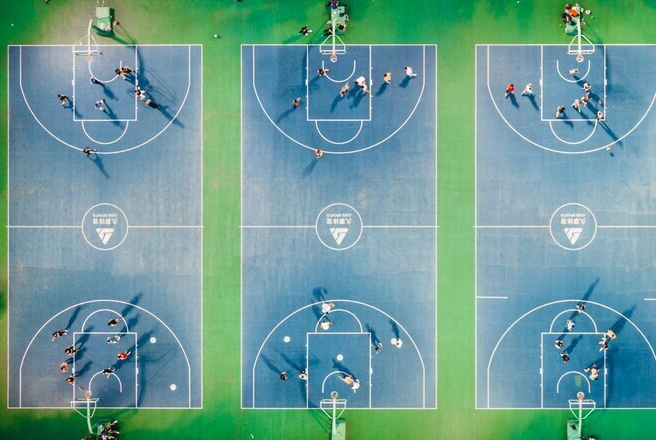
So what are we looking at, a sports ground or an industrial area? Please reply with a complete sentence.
The picture captures a sports ground.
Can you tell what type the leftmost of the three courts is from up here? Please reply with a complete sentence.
It turns out the leftmost of the three courts is a basketball court.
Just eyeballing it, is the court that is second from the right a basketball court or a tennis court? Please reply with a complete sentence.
It turns out the court that is second from the right is a basketball court.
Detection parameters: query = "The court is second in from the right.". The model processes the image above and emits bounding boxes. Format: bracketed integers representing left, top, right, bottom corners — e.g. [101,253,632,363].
[241,45,437,409]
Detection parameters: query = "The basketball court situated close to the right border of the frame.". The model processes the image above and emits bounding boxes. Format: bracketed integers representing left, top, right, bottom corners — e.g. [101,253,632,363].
[476,45,656,409]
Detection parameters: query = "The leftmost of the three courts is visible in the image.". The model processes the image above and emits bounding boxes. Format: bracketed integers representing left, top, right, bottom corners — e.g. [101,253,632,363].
[7,45,203,409]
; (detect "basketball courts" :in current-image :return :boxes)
[476,45,656,409]
[7,45,203,409]
[241,45,437,409]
